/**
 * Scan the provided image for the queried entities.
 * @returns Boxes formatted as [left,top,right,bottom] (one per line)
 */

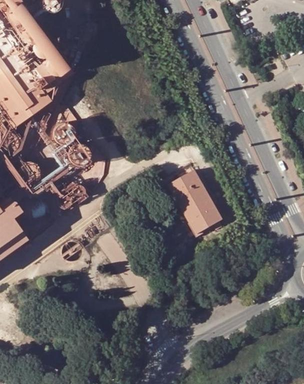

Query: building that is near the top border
[0,0,72,127]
